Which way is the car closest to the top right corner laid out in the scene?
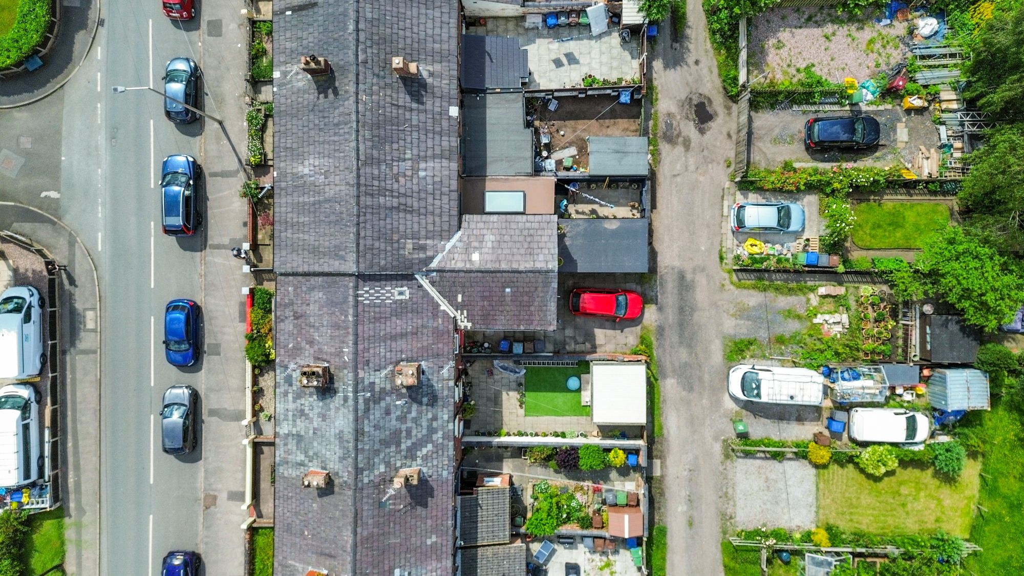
from left to right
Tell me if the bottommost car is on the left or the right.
left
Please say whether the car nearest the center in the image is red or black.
red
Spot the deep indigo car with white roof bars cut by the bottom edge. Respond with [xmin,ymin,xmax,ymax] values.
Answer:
[160,553,197,576]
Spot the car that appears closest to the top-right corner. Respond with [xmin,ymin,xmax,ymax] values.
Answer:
[808,111,883,148]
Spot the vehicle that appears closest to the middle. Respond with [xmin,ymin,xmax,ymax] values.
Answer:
[572,287,643,324]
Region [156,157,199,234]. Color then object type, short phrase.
blue car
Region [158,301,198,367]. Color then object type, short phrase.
blue car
